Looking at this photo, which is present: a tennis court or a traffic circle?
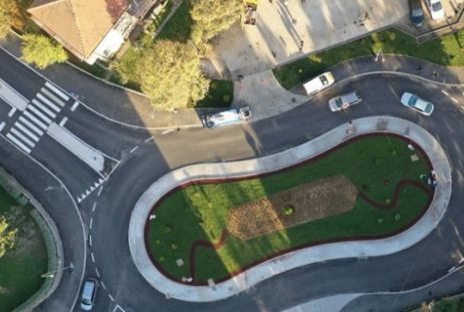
traffic circle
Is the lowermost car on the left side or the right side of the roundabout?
left of it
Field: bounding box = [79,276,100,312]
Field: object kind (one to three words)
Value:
car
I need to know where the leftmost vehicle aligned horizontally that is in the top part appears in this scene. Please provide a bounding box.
[201,102,254,131]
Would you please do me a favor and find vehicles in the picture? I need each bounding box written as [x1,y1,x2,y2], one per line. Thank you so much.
[425,0,444,23]
[79,276,100,312]
[300,69,337,95]
[407,0,425,28]
[243,0,262,26]
[399,92,435,117]
[327,91,362,113]
[201,102,254,131]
